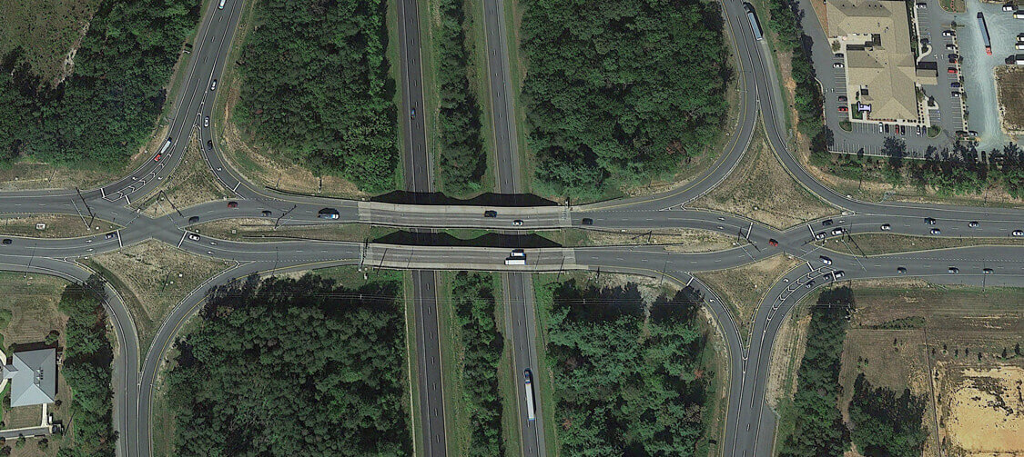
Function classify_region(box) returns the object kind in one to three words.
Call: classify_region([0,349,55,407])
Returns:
house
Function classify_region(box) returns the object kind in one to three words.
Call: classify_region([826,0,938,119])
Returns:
building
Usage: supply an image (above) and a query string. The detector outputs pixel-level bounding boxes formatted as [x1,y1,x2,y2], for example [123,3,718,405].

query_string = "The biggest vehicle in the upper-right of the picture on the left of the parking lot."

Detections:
[744,4,763,40]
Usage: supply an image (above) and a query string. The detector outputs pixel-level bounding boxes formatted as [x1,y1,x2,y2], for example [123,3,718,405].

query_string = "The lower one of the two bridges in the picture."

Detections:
[359,243,575,271]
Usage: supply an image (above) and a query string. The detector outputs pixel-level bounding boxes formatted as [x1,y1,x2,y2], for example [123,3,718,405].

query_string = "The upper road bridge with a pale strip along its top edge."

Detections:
[358,201,572,228]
